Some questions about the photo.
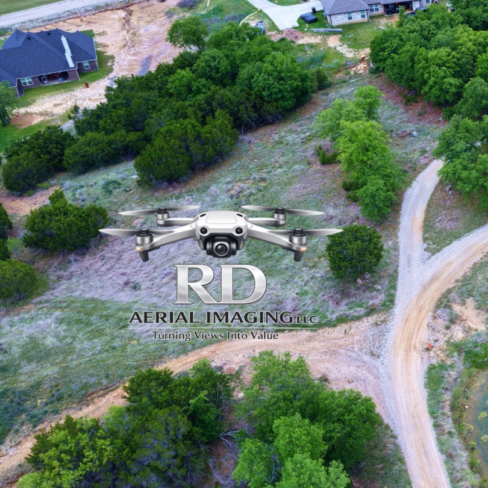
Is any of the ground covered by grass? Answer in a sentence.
Yes, there's grass in this view.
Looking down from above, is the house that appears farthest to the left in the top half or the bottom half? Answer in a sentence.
The top half of the photo is where the house that appears farthest to the left is.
